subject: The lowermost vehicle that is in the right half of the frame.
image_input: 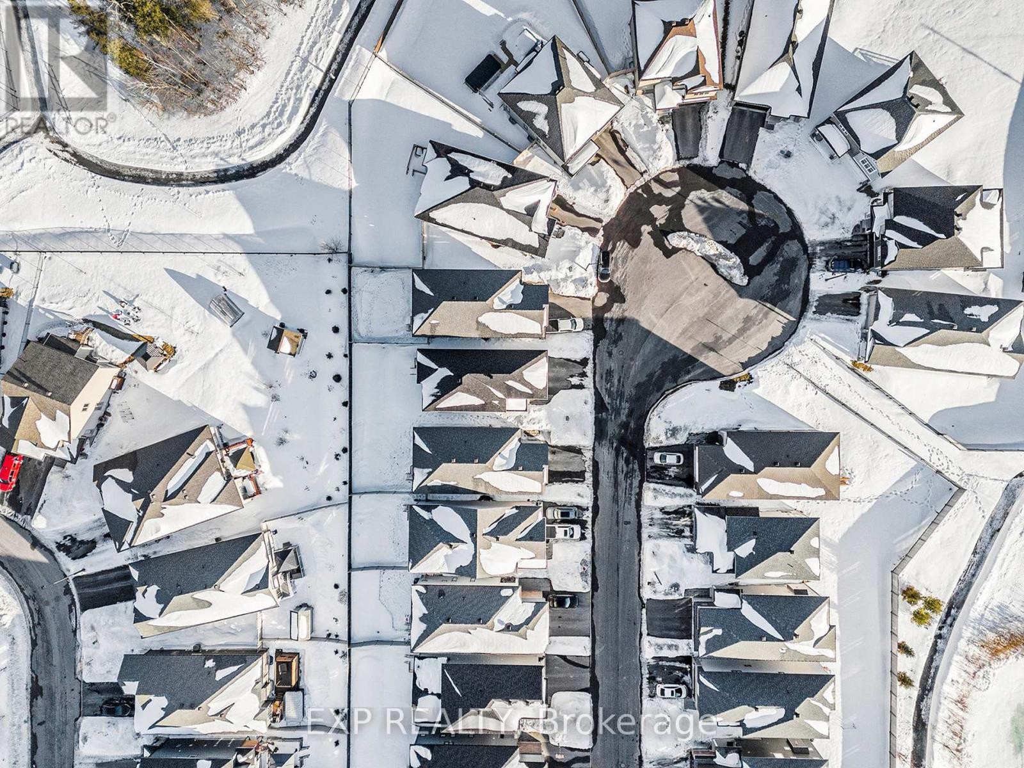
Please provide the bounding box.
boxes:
[656,683,686,699]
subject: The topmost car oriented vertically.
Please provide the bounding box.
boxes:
[597,250,611,281]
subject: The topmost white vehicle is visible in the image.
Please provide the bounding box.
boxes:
[548,316,585,331]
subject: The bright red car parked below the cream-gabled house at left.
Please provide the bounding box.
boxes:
[0,456,22,489]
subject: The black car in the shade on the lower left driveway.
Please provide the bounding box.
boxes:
[100,698,131,715]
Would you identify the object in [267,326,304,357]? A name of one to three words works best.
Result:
shed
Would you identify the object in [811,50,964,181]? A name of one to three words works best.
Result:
house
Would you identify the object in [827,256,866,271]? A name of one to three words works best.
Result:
vehicle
